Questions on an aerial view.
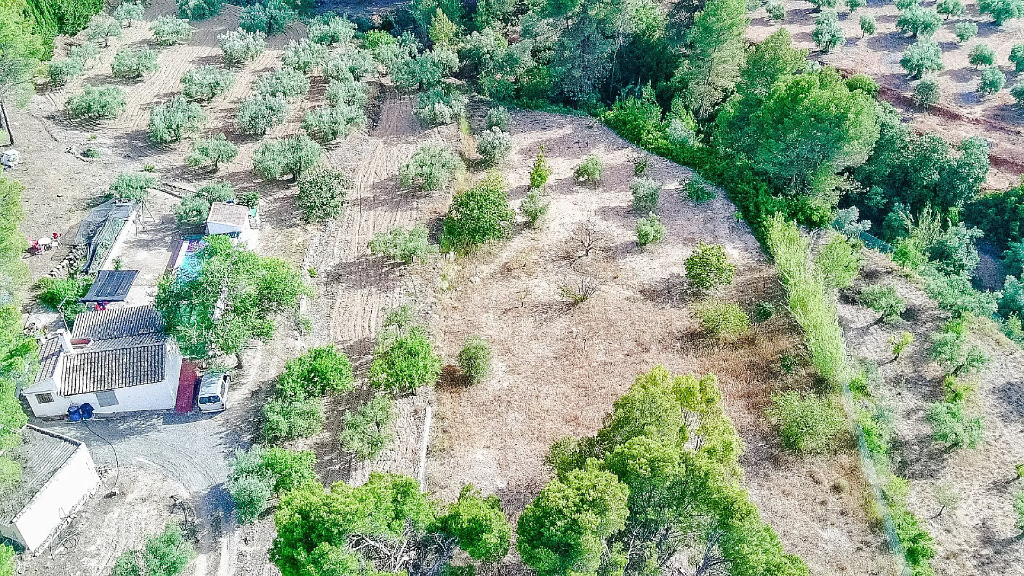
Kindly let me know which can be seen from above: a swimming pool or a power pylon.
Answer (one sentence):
The one in the frame is a swimming pool.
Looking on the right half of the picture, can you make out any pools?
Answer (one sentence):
No, there is no pool on the right half of the picture.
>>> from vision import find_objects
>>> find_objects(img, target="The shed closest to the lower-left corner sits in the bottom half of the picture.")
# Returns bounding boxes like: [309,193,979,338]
[0,425,100,565]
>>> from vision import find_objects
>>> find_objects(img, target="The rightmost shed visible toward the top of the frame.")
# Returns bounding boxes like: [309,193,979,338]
[206,196,258,238]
